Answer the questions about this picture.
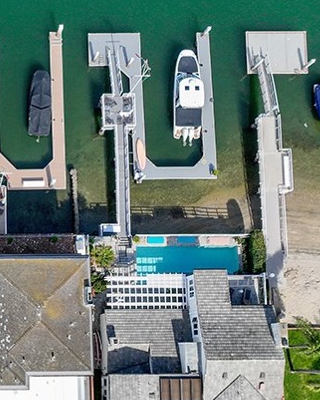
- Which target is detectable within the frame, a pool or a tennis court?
pool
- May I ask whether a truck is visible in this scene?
No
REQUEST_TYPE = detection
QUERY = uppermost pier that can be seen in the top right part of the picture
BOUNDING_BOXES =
[245,31,308,75]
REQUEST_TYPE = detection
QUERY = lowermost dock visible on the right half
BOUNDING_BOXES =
[250,112,299,293]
